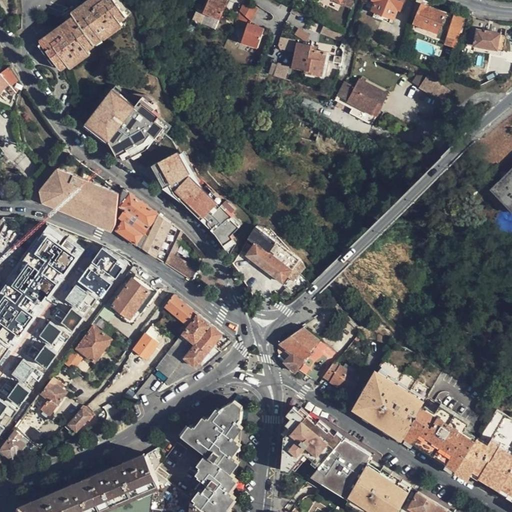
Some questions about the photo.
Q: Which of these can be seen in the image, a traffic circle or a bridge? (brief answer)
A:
bridge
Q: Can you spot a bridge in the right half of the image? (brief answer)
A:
Yes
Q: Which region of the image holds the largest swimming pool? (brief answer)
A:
top right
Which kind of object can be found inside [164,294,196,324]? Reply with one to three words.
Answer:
house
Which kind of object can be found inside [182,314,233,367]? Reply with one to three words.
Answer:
house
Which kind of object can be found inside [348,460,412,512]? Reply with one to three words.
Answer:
building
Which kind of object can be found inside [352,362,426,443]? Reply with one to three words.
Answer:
building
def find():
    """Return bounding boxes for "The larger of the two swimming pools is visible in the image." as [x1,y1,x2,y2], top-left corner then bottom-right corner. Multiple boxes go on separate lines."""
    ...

[414,36,442,58]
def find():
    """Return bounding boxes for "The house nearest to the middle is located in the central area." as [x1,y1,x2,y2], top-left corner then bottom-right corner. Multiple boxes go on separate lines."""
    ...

[232,225,306,286]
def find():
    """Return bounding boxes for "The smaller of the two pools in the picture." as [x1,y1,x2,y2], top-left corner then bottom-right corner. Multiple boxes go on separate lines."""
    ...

[473,53,486,69]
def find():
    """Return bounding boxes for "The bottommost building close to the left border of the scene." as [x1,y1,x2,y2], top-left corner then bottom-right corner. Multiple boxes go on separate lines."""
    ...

[14,448,175,512]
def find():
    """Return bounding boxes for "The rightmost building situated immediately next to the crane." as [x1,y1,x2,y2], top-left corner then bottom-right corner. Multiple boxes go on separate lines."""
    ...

[151,151,244,254]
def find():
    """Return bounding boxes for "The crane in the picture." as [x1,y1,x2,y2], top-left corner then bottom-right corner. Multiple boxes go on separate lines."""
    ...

[0,175,95,264]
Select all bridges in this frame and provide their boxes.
[304,138,471,297]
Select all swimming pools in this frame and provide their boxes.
[414,36,442,58]
[473,53,486,69]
